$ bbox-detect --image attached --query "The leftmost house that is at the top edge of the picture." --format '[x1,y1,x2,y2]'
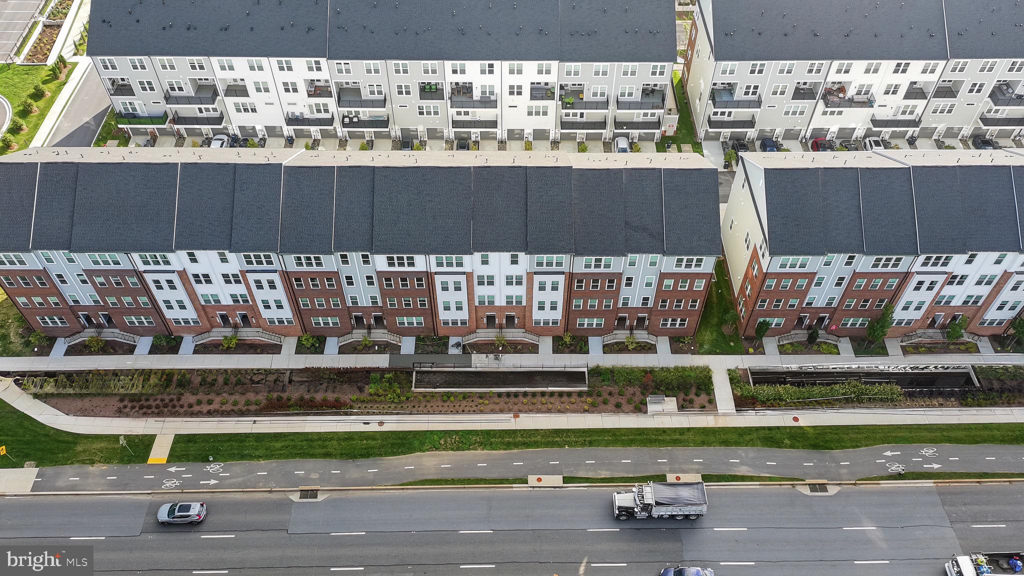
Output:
[88,0,180,138]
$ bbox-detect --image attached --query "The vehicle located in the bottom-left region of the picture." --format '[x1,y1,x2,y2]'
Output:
[159,501,209,526]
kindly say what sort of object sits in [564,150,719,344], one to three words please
house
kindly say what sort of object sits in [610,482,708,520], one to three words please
truck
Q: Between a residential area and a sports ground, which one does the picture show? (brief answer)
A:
residential area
